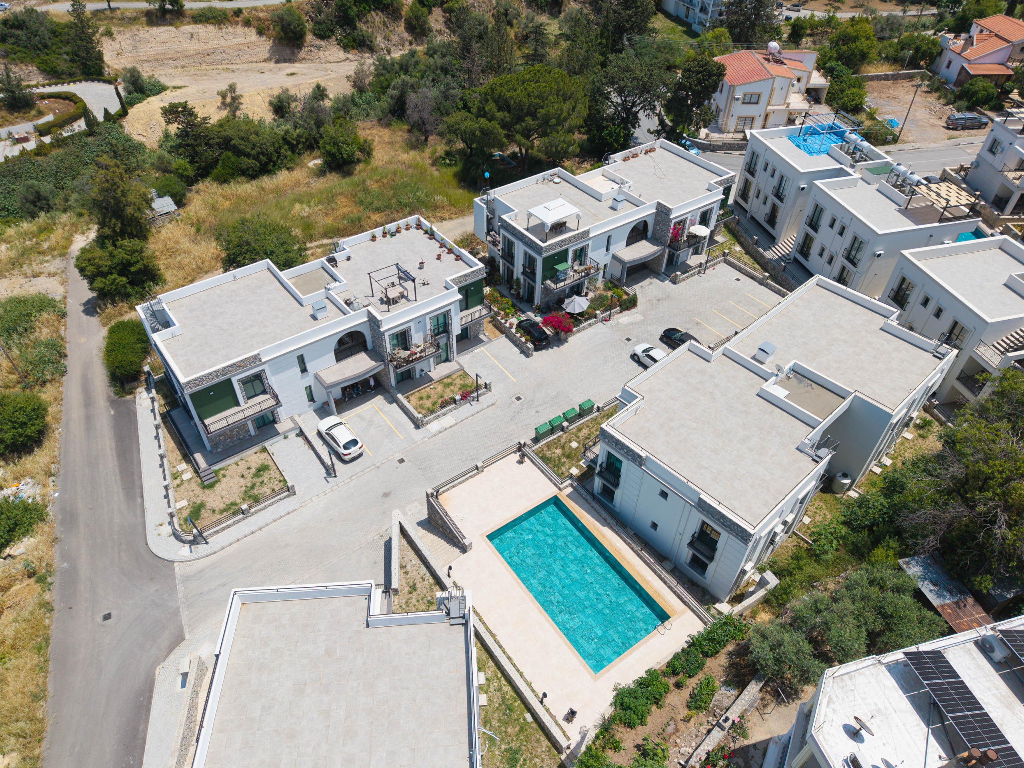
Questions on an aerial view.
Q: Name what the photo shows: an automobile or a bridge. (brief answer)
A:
automobile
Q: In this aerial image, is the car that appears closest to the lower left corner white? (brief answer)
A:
Yes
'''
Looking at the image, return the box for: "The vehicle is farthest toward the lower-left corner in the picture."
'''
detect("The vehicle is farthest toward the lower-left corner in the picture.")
[323,417,366,463]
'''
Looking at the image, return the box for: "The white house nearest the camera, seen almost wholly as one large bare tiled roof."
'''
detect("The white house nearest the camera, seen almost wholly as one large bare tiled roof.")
[188,573,489,768]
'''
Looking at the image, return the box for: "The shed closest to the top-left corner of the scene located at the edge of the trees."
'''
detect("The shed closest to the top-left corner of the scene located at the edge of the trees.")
[150,192,181,236]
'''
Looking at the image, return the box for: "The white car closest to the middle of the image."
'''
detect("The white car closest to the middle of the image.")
[626,342,668,369]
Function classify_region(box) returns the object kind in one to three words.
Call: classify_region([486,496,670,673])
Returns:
swimming pool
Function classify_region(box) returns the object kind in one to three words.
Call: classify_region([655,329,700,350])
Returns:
car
